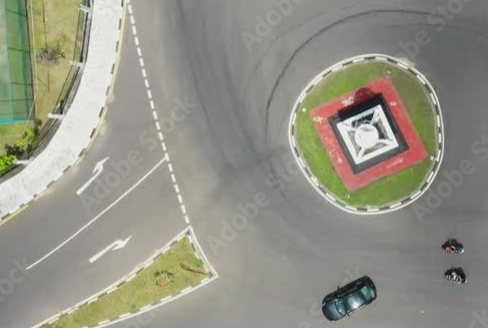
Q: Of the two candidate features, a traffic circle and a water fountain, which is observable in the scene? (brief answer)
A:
traffic circle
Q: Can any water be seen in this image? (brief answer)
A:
No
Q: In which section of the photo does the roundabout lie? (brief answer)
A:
right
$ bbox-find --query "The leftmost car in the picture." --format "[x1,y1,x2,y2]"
[322,278,377,318]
